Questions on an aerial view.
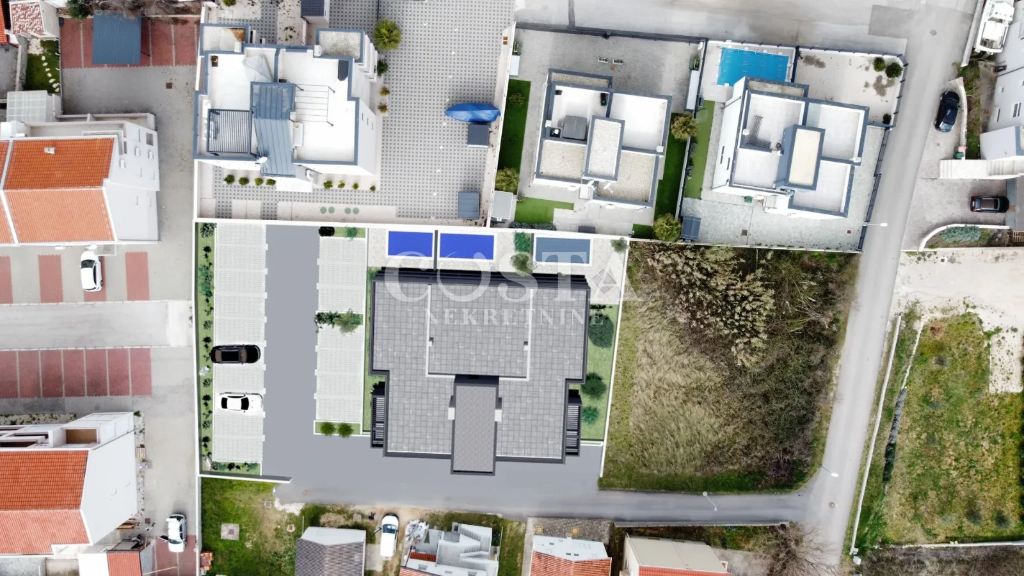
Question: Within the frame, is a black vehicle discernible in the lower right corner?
No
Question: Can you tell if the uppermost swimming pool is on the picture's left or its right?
right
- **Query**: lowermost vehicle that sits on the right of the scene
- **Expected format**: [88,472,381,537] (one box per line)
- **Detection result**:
[965,193,1005,215]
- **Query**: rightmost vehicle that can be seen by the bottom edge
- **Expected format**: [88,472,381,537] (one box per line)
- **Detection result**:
[371,510,400,563]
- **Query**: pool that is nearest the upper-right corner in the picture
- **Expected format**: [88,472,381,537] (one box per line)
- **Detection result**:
[715,48,791,87]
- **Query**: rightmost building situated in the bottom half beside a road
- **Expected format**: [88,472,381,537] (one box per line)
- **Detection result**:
[624,525,729,576]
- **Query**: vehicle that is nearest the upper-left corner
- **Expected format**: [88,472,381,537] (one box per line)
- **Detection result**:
[80,251,108,292]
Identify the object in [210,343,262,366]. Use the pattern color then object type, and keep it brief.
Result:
black car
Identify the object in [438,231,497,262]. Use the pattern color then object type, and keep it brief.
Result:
blue swimming pool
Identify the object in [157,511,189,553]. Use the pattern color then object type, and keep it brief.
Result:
white car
